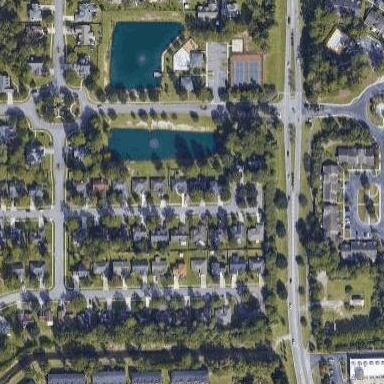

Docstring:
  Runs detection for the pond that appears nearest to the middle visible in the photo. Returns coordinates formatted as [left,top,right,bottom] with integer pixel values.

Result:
[107,128,217,162]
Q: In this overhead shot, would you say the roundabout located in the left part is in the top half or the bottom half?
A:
top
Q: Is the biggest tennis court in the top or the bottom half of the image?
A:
top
